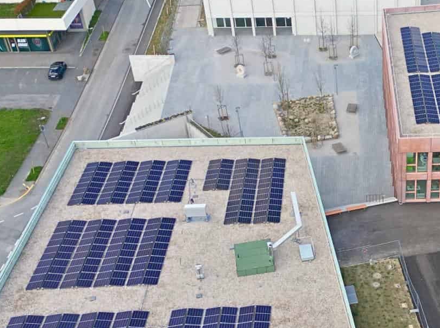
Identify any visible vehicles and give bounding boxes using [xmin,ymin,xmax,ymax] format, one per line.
[48,60,67,79]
